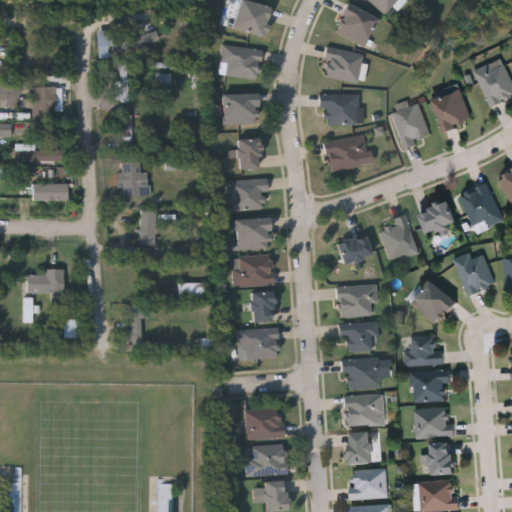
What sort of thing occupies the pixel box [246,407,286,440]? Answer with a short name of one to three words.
house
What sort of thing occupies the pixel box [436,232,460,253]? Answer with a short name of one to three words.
swimming pool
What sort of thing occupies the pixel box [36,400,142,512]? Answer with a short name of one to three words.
sports field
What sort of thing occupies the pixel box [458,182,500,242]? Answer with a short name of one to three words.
house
